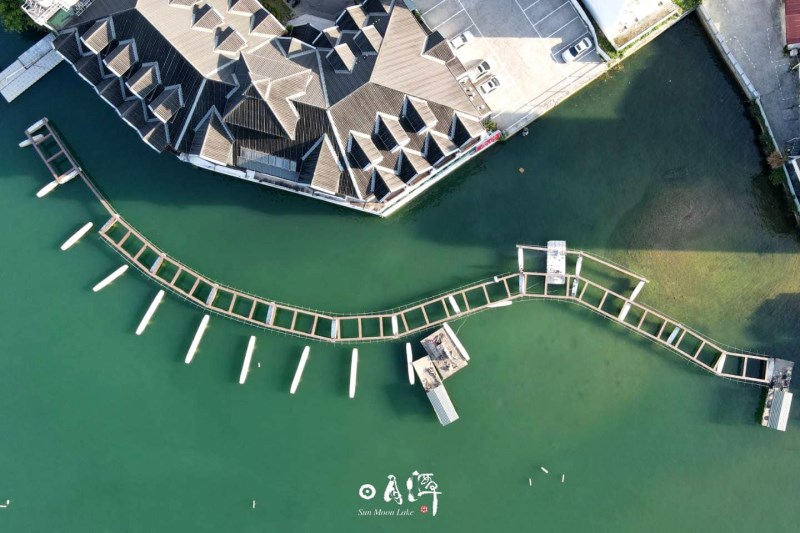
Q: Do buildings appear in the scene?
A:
Yes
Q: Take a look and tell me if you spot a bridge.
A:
No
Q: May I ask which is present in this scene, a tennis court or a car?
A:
car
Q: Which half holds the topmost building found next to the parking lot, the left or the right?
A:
right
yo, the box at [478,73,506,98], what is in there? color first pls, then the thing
white car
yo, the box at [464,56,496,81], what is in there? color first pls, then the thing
white car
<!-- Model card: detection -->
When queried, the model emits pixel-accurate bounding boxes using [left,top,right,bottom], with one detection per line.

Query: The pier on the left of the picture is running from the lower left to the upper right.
[0,34,67,104]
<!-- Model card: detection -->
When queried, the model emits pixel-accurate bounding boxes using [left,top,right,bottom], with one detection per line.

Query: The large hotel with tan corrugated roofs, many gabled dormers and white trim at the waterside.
[50,0,505,216]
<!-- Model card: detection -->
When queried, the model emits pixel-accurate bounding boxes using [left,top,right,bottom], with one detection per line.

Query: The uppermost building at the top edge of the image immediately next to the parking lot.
[587,0,686,51]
